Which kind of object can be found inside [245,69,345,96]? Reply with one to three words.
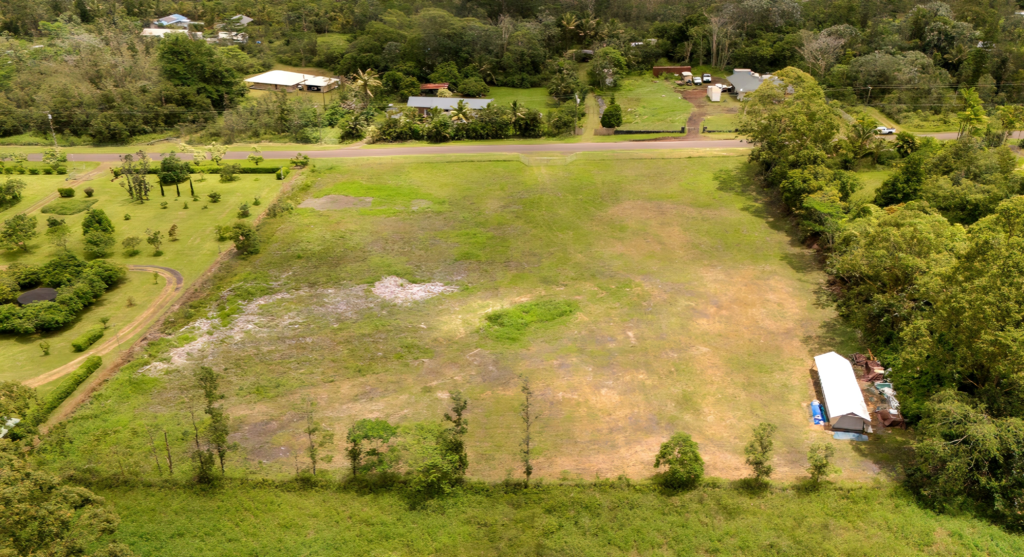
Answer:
house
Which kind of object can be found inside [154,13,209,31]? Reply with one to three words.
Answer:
house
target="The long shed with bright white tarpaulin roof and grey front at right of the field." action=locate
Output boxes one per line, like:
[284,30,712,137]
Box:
[813,351,870,432]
